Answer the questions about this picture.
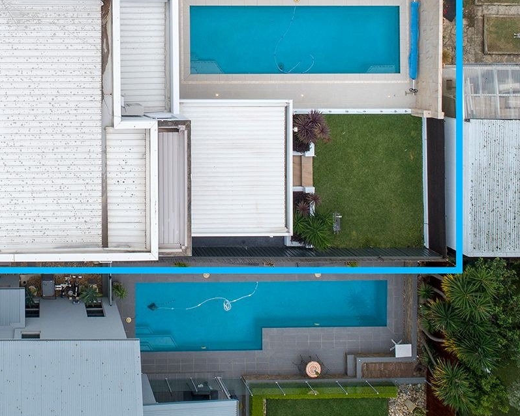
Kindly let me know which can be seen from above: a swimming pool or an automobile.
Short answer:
swimming pool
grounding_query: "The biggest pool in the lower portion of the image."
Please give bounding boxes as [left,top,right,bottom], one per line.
[135,279,386,352]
